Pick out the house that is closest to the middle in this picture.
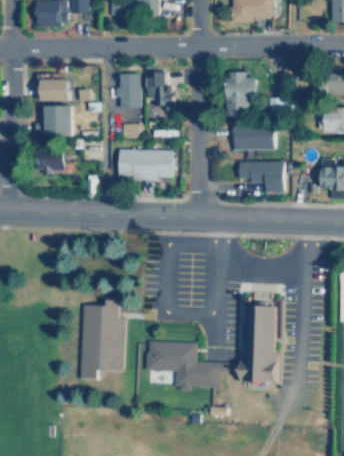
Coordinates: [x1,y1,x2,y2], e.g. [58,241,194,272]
[118,148,176,180]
